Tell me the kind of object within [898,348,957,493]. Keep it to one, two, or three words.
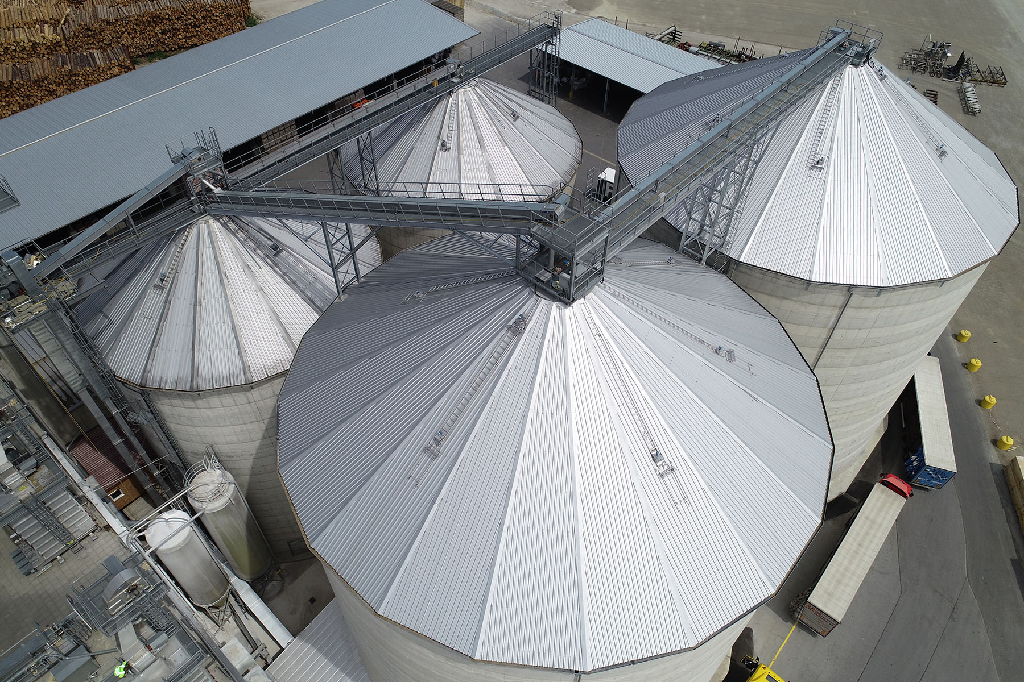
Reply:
truck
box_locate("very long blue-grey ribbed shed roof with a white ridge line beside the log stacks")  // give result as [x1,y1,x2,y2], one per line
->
[0,0,481,254]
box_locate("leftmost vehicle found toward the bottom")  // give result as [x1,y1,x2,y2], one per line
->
[749,655,782,682]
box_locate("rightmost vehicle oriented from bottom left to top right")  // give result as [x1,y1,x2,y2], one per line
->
[785,467,916,639]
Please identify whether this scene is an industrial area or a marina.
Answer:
industrial area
